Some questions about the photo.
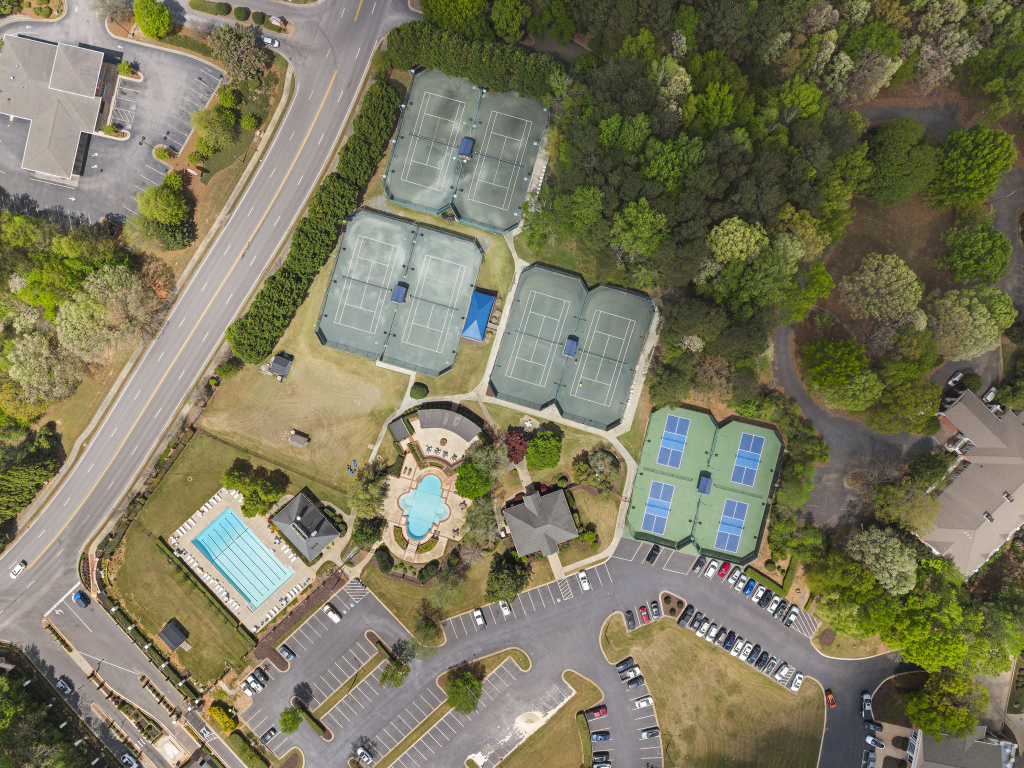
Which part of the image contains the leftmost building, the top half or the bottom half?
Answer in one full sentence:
You can find the leftmost building in the top half.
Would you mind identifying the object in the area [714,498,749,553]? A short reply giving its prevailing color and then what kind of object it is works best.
blue sports court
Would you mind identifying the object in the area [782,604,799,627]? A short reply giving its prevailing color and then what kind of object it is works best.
gray vehicle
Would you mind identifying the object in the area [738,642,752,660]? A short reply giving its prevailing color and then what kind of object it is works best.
white car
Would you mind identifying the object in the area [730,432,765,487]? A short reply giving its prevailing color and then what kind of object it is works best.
blue sports court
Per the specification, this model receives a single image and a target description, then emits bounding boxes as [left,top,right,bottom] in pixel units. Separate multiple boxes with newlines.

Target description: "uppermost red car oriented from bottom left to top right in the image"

[717,561,732,579]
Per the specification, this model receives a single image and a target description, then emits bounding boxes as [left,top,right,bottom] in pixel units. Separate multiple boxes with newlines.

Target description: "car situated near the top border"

[262,36,282,49]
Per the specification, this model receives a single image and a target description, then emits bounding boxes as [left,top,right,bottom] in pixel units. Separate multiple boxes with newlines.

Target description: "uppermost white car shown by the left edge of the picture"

[9,561,27,579]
